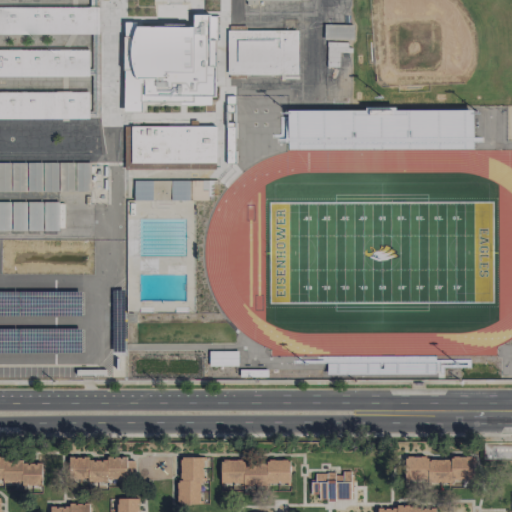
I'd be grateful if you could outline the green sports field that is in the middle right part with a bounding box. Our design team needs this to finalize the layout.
[266,173,499,333]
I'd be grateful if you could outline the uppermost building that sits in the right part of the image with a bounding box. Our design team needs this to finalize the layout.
[326,24,355,40]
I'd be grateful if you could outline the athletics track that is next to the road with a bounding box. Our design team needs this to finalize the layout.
[203,150,512,358]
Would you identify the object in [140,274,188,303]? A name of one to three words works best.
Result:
swimming pool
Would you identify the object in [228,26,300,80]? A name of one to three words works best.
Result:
building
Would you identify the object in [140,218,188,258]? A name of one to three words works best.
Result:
swimming pool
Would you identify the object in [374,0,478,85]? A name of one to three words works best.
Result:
baseball field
